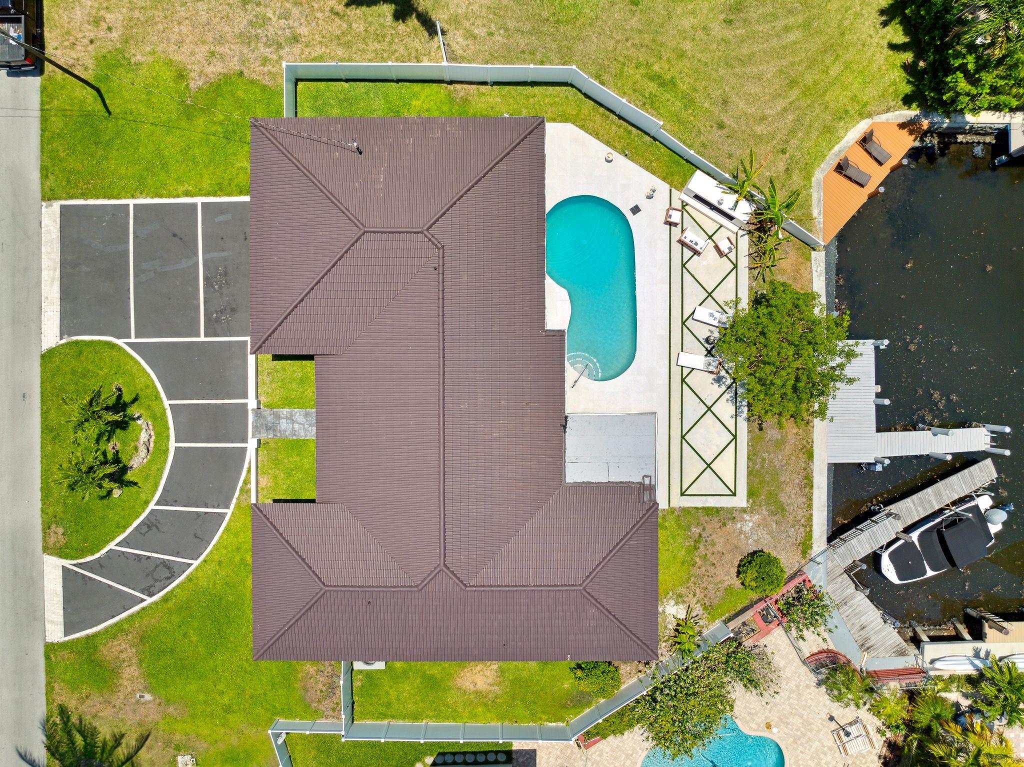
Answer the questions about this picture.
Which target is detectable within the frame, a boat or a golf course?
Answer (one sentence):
There is a boat in the scene.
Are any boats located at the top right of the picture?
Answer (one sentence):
No, no boat can be made out at the top right of the picture.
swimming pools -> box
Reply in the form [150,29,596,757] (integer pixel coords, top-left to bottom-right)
[637,709,791,767]
[545,196,637,388]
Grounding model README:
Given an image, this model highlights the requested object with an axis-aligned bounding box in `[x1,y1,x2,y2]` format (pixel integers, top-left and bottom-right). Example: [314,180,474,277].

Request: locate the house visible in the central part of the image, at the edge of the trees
[247,115,660,663]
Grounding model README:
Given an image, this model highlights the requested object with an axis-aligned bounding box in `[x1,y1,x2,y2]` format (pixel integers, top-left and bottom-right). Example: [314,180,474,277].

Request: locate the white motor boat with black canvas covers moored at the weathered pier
[875,498,1003,583]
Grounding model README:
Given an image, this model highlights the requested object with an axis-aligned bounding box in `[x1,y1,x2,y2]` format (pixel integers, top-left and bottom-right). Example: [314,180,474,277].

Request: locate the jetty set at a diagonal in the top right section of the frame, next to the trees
[823,122,928,246]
